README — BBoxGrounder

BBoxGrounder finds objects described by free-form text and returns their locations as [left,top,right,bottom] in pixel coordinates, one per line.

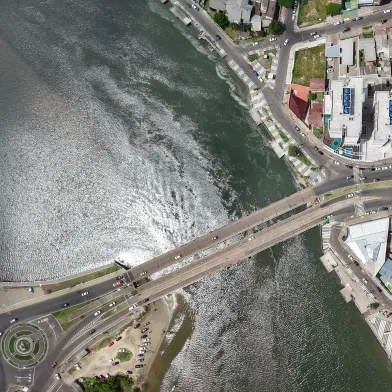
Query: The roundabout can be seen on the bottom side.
[0,322,47,369]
